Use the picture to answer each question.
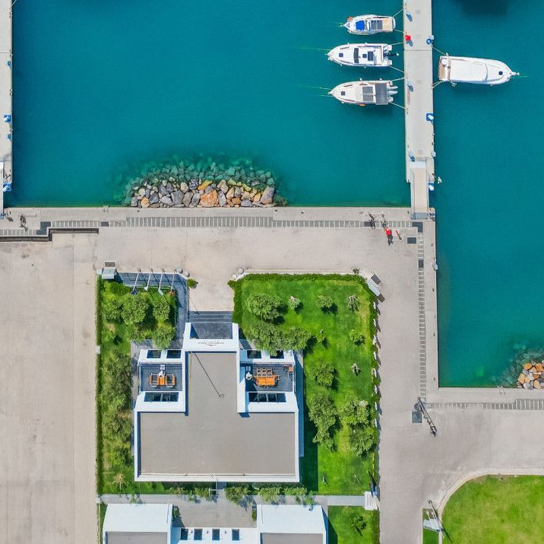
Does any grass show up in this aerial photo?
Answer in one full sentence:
Yes, there's grass in this view.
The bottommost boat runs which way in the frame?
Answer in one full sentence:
The bottommost boat is oriented from left to right.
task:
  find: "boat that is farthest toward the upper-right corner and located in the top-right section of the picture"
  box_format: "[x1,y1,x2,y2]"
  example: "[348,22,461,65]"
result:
[434,49,542,87]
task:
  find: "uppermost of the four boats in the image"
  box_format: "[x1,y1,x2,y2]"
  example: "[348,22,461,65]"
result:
[290,12,403,36]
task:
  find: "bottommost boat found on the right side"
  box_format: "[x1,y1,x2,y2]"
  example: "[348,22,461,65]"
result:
[272,74,401,109]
